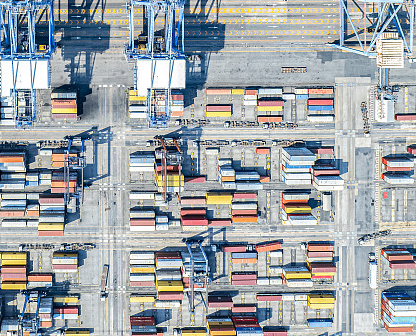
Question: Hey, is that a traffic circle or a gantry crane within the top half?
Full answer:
Visible within the top half is a gantry crane.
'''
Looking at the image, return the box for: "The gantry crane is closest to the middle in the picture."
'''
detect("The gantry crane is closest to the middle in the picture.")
[156,138,186,209]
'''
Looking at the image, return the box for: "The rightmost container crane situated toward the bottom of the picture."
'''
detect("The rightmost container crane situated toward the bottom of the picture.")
[181,241,213,317]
